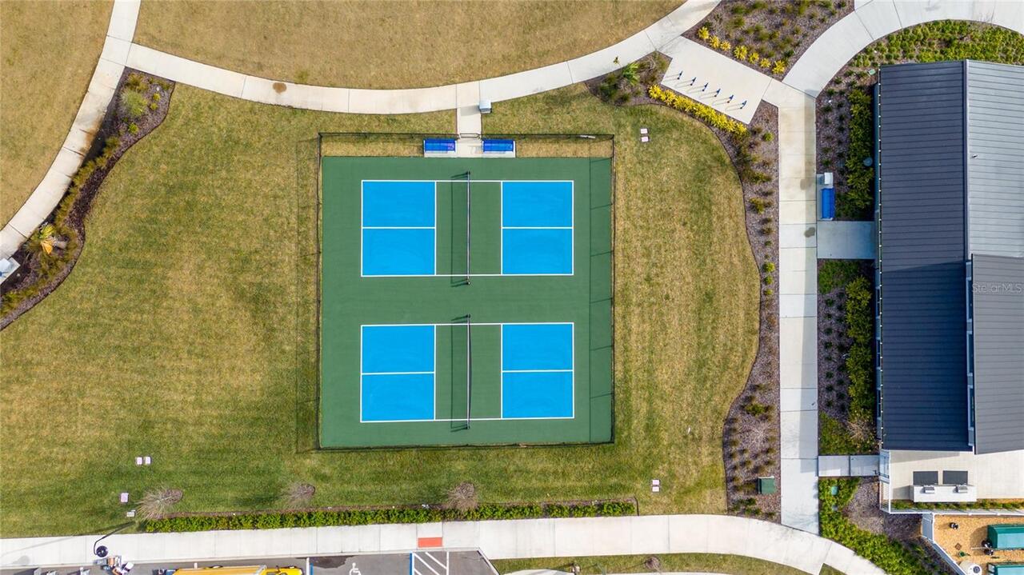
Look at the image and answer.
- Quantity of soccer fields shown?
zero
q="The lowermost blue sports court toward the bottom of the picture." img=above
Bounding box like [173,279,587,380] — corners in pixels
[361,323,575,422]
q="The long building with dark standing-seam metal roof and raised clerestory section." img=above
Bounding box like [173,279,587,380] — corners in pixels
[872,62,1024,460]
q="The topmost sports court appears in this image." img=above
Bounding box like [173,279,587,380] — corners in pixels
[361,180,574,277]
